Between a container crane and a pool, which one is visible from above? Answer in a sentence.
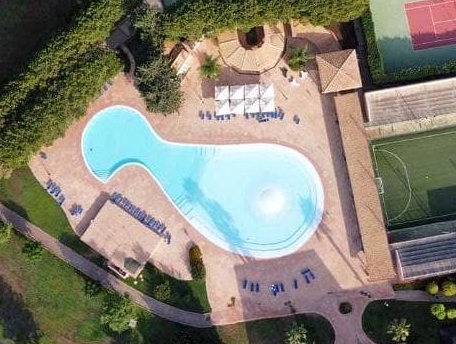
There is a pool in the scene.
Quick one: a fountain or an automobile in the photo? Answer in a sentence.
This aerial view contains a fountain.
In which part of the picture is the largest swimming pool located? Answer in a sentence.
You can find the largest swimming pool in the center area of the picture.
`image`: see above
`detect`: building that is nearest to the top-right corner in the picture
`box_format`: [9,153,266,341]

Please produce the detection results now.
[316,49,363,94]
